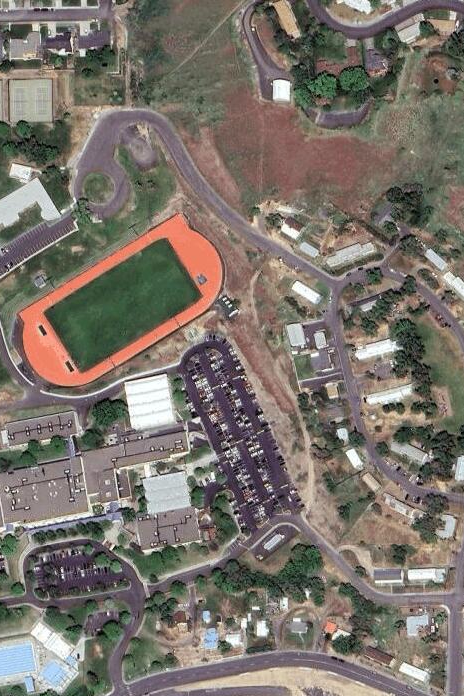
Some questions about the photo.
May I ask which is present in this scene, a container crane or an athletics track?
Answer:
athletics track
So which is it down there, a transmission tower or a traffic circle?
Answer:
traffic circle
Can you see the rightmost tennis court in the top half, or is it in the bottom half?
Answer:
top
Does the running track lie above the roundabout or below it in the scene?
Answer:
below it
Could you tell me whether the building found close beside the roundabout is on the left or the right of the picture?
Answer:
left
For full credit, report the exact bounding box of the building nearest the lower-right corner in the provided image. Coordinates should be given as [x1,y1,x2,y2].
[399,661,430,685]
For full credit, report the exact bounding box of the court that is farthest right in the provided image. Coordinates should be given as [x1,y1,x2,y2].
[9,78,52,122]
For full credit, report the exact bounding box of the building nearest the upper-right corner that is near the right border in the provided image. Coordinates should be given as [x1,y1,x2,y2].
[433,18,457,34]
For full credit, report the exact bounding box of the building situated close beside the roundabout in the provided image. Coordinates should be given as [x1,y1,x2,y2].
[0,178,61,229]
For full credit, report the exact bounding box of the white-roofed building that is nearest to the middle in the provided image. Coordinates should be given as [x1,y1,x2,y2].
[285,323,306,348]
